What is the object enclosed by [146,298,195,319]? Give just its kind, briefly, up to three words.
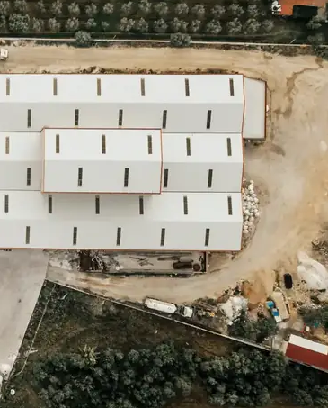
truck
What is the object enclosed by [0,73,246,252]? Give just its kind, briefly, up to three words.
warehouse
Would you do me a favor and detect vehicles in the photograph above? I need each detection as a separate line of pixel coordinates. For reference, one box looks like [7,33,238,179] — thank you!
[271,290,294,320]
[0,48,8,58]
[146,298,195,319]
